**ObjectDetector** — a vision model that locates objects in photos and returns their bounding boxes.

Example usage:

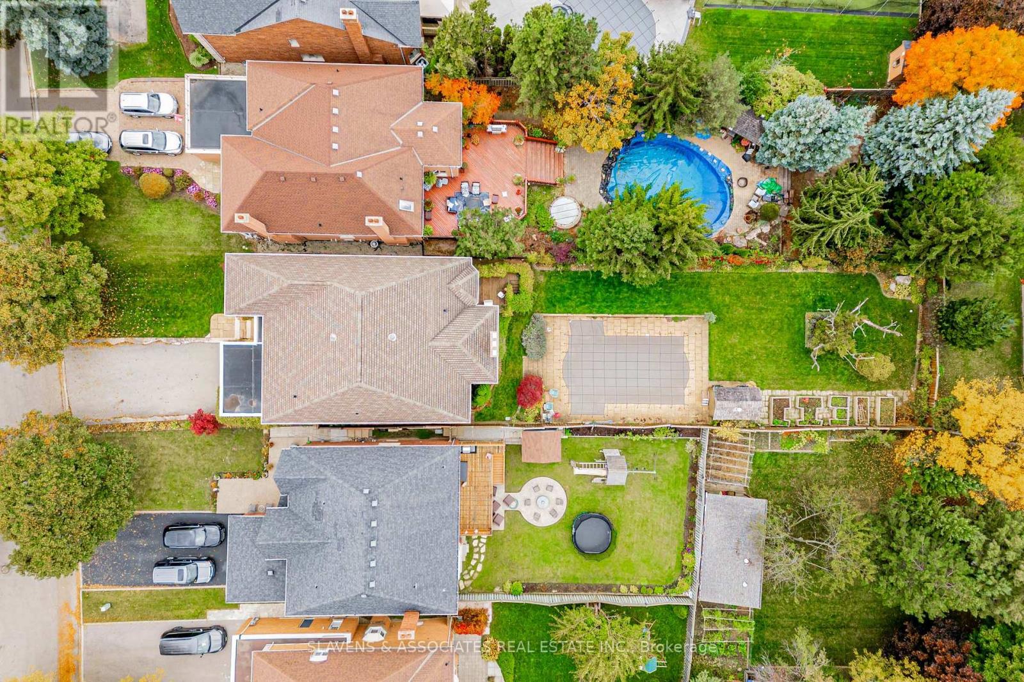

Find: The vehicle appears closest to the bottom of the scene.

[157,621,230,657]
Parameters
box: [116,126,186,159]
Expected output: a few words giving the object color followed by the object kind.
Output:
white car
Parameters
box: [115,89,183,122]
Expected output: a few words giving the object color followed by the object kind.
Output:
white car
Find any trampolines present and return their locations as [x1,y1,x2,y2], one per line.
[569,516,615,566]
